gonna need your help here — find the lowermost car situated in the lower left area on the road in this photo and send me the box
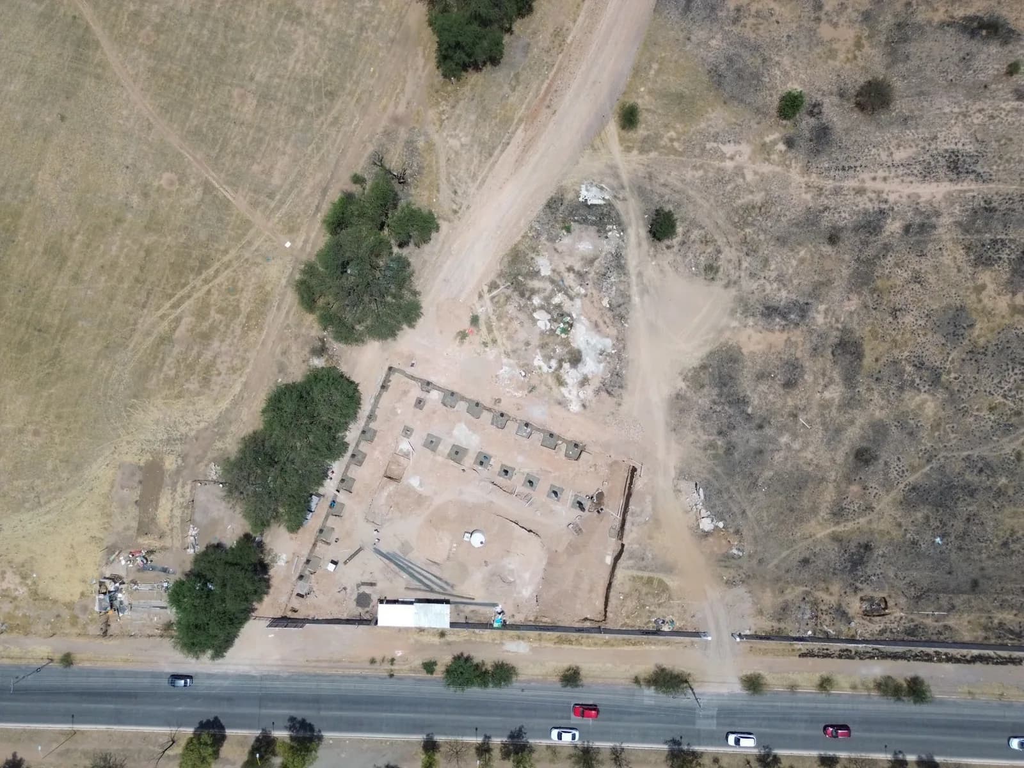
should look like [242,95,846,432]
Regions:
[167,673,192,688]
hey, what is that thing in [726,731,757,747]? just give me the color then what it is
white car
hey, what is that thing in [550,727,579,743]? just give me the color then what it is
white car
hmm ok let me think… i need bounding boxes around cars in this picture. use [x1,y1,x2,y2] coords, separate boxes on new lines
[573,704,600,719]
[167,673,192,688]
[824,723,852,738]
[550,727,579,743]
[726,731,757,747]
[1009,734,1024,750]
